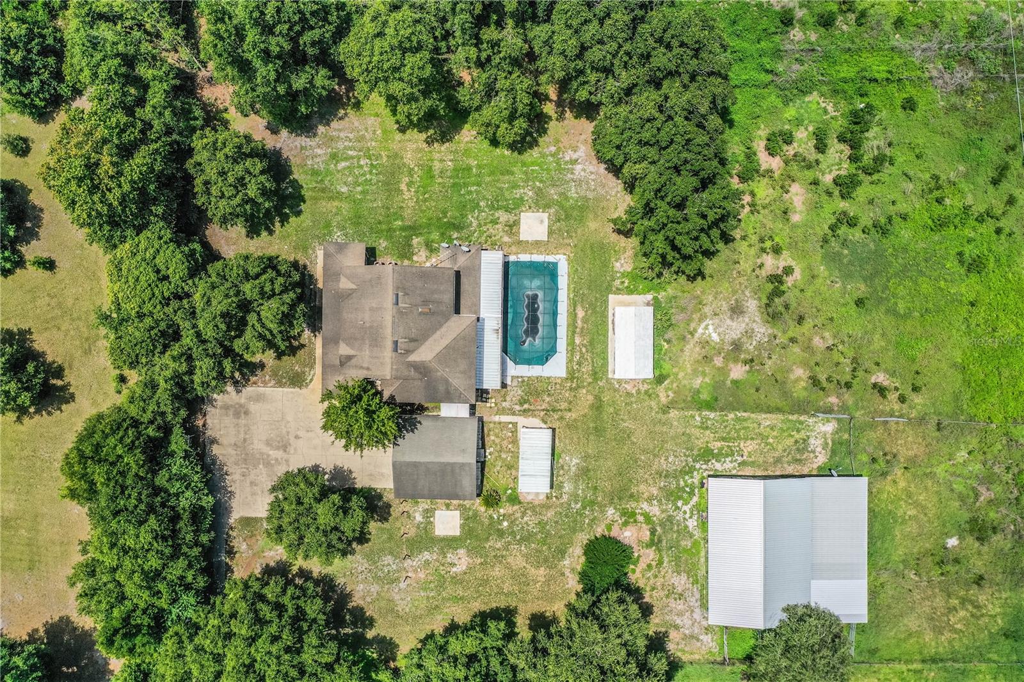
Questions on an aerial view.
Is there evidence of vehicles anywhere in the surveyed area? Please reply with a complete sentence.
No, no vehicle is visible in the scene.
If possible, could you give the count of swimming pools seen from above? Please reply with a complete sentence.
In total, there is 1 swimming pool in the scene.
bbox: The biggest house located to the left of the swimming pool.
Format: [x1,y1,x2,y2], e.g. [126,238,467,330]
[322,242,503,417]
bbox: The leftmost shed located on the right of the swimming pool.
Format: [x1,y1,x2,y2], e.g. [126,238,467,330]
[613,307,654,379]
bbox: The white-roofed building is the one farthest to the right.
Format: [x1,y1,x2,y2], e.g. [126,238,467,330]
[708,474,868,629]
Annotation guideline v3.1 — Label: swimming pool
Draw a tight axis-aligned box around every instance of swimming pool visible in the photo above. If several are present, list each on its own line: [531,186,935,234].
[502,254,568,385]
